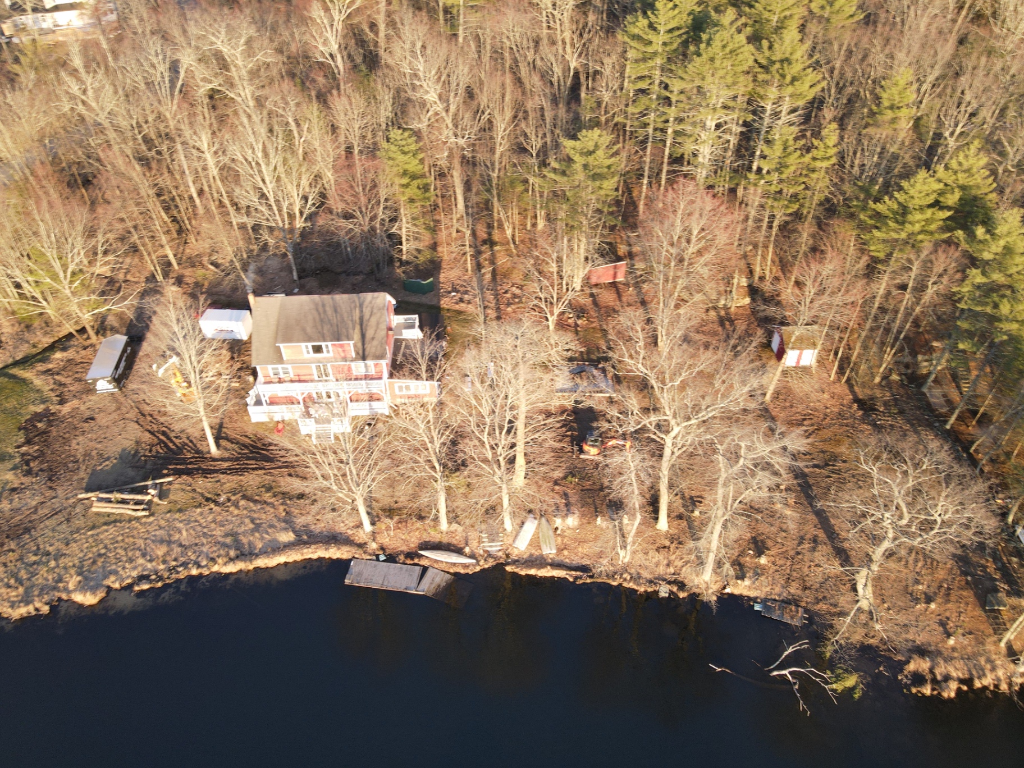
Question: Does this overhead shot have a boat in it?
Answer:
Yes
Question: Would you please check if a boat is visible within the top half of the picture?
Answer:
No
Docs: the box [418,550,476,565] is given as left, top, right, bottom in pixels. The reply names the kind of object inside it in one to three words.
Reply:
boat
